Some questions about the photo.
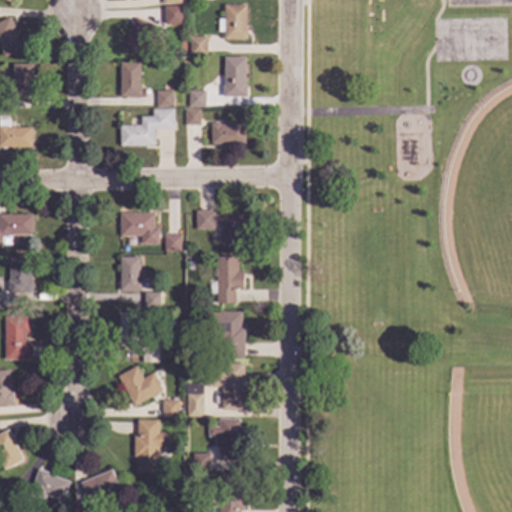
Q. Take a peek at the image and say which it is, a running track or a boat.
running track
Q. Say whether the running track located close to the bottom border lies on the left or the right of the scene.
right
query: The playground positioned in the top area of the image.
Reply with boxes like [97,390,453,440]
[396,112,434,182]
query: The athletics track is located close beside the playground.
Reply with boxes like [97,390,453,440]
[439,82,512,310]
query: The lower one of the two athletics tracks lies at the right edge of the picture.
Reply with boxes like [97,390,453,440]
[449,366,512,512]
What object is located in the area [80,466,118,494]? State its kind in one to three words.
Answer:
house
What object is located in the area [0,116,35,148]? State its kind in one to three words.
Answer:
house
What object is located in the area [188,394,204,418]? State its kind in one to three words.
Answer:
building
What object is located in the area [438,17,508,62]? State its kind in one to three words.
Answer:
basketball court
